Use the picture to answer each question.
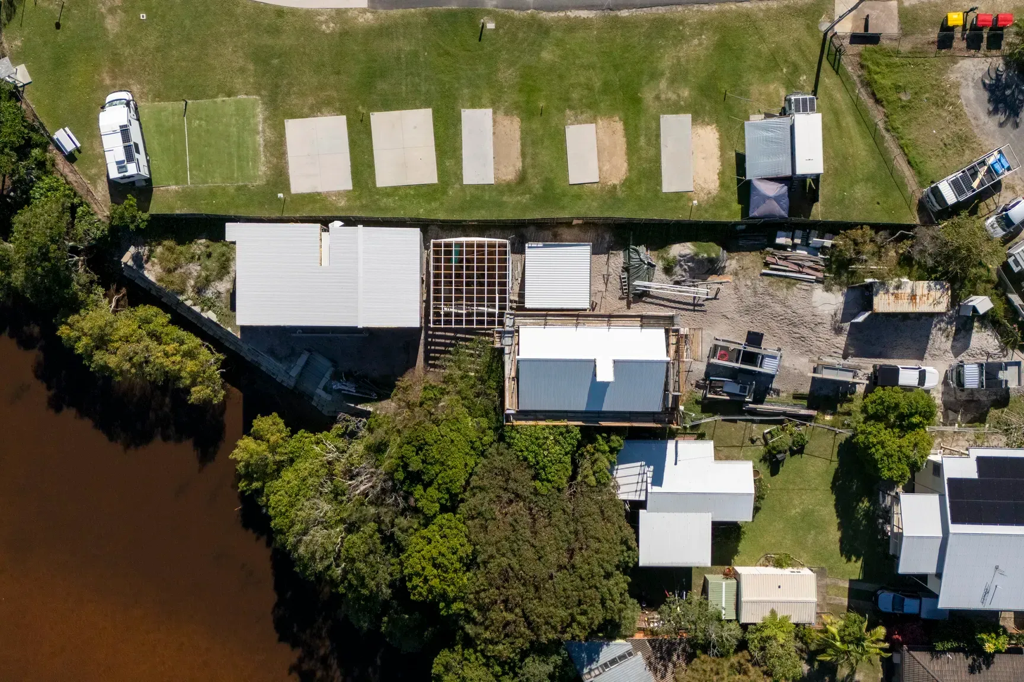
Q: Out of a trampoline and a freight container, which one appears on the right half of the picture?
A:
freight container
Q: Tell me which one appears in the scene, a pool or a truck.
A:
truck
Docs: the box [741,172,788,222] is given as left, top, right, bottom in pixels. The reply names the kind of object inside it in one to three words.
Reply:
gazebo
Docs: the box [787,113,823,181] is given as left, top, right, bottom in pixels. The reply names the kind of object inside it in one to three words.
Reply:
vehicle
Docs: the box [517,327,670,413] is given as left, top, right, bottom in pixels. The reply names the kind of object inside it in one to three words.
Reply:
house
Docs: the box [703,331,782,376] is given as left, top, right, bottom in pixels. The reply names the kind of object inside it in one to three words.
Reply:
truck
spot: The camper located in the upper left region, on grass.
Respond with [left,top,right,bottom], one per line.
[102,92,154,186]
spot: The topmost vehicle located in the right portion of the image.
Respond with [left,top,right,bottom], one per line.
[782,94,818,118]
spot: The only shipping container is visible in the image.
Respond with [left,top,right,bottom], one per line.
[836,281,952,321]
